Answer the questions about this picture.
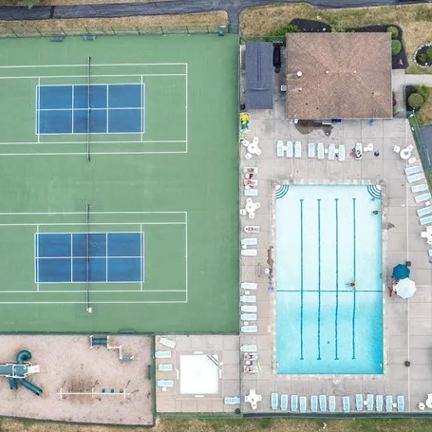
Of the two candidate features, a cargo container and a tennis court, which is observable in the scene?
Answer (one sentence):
There is a tennis court in the scene.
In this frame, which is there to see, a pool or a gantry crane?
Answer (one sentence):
The image shows a pool.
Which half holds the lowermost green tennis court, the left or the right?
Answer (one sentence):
You can find the lowermost green tennis court on the left side of the picture.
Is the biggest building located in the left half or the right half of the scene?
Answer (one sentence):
The biggest building appears in the right half of the scene.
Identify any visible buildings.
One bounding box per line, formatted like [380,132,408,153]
[246,39,274,112]
[285,31,394,122]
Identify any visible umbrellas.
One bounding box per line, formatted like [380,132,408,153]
[391,262,410,280]
[394,277,416,298]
